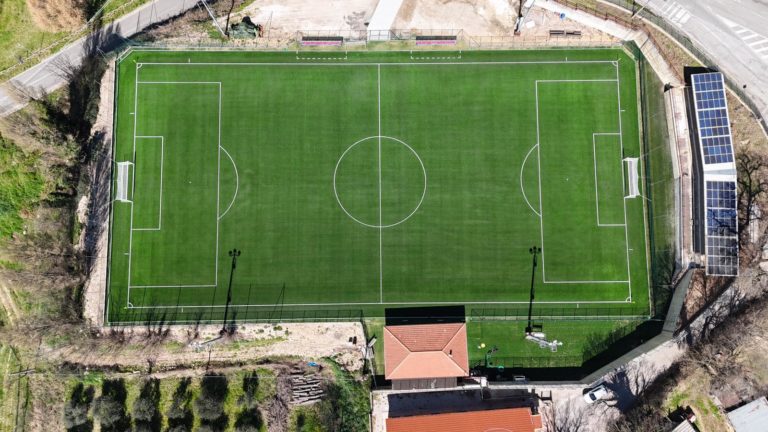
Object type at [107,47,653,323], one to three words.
soccer field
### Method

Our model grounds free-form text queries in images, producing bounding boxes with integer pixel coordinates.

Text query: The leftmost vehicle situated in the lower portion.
[584,386,608,406]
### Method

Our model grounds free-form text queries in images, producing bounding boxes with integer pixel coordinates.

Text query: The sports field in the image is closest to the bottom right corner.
[363,317,664,386]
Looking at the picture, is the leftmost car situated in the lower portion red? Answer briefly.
No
